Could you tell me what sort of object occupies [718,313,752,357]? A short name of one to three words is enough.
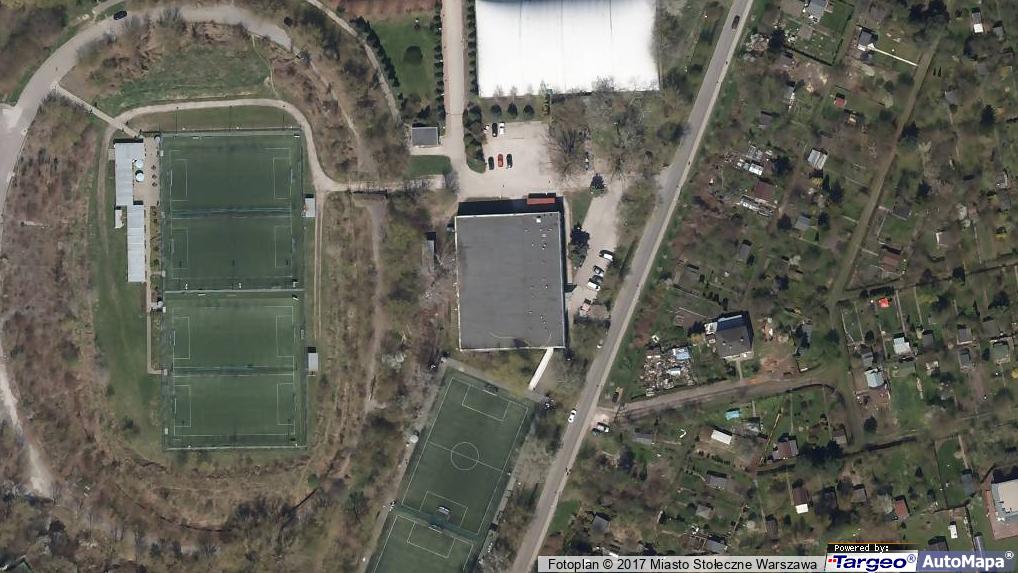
house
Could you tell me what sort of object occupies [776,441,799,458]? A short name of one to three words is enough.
shed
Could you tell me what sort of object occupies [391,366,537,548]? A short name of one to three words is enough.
soccer field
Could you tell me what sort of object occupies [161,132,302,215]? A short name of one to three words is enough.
soccer field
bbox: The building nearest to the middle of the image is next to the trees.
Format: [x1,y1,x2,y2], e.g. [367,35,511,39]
[455,212,568,350]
